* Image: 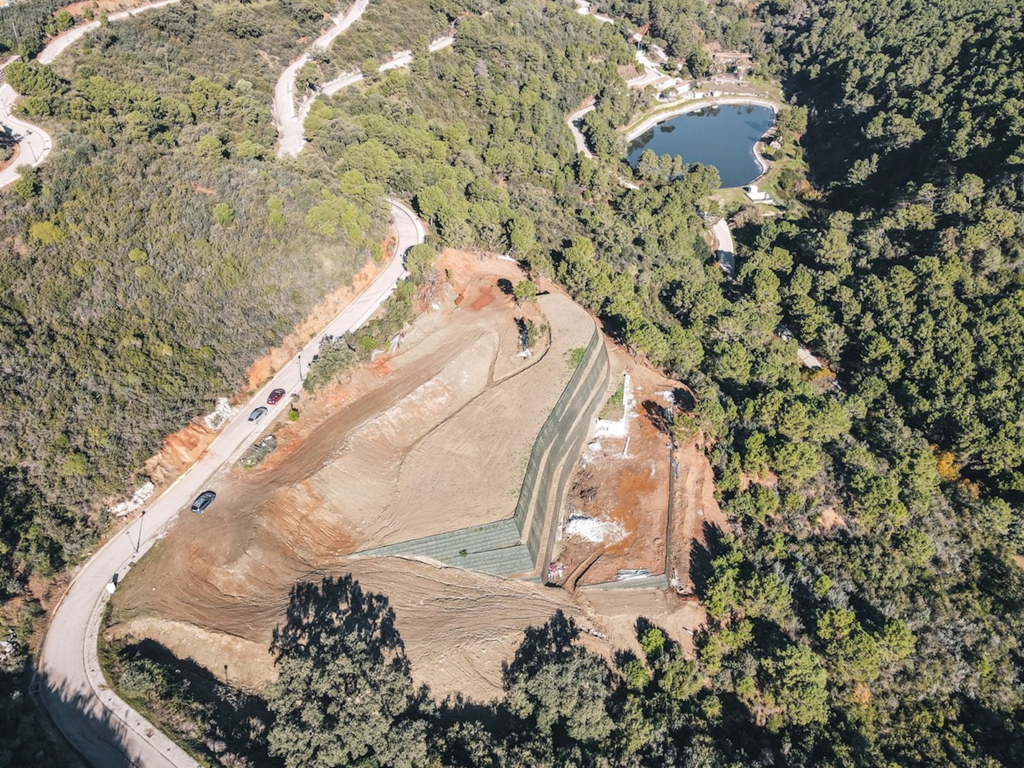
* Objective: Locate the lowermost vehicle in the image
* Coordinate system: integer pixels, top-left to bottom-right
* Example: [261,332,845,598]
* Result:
[185,486,219,515]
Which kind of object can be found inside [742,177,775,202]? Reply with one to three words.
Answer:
building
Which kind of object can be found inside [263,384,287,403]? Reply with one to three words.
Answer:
car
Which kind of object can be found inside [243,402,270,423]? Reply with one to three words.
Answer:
car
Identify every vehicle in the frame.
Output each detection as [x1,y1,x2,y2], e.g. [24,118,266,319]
[185,486,219,515]
[243,402,270,423]
[263,384,287,403]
